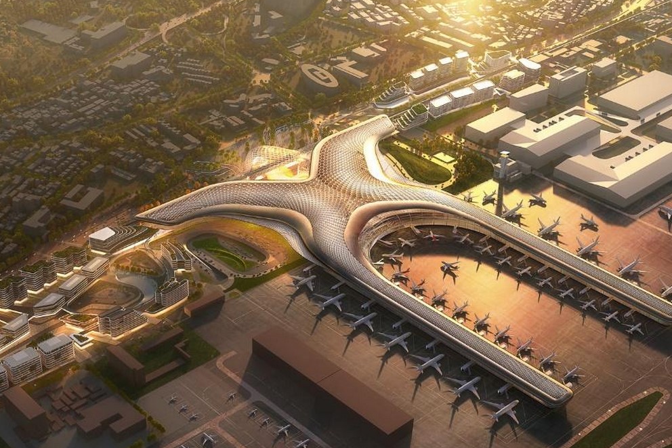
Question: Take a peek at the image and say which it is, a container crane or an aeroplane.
aeroplane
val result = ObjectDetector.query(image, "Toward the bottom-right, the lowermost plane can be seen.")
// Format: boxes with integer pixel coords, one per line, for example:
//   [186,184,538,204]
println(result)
[488,400,517,422]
